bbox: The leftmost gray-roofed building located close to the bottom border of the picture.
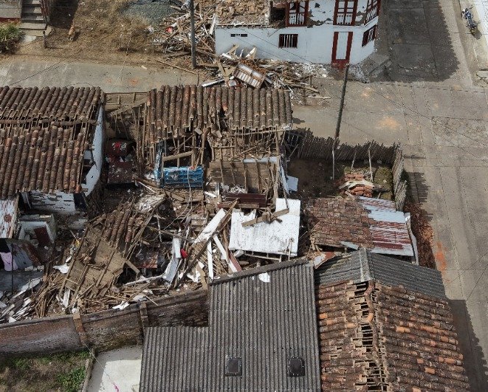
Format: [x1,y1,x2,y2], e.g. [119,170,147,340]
[141,259,321,392]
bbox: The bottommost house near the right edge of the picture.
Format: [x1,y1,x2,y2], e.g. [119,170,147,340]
[314,249,470,392]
